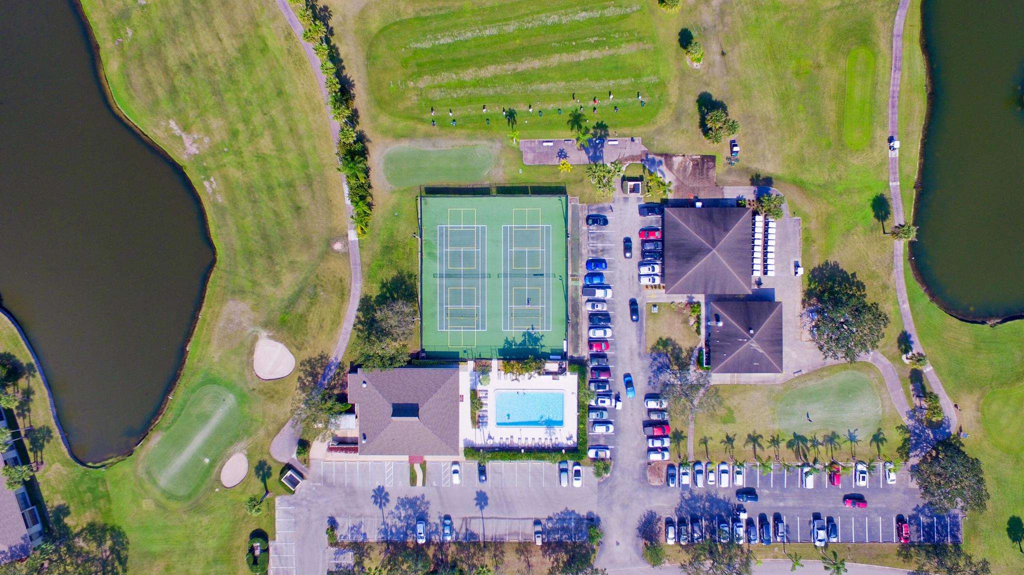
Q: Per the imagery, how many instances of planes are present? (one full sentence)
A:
The picture shows no planes.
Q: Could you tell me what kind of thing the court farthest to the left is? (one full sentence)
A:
From above, the court farthest to the left can be identified as a tennis court.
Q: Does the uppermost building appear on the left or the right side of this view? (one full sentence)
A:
You can find the uppermost building on the right side of the picture.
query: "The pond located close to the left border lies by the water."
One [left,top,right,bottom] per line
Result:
[0,0,211,462]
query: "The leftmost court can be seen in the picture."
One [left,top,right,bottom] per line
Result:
[421,195,494,359]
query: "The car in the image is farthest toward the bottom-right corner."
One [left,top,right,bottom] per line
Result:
[897,520,909,542]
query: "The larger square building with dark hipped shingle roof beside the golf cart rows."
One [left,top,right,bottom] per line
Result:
[663,207,752,294]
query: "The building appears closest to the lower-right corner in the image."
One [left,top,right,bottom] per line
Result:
[710,301,783,374]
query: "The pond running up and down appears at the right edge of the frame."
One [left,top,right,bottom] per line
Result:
[914,0,1024,316]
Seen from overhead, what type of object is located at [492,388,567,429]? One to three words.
swimming pool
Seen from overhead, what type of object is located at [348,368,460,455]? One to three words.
building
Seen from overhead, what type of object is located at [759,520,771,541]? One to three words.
vehicle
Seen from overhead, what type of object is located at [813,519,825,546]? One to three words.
vehicle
